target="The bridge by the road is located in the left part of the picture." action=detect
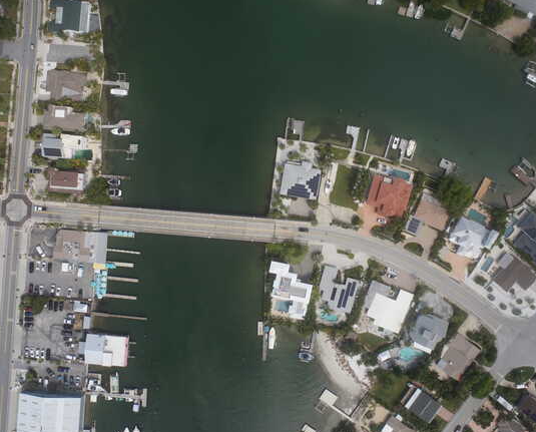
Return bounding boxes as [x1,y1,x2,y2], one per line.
[107,205,267,242]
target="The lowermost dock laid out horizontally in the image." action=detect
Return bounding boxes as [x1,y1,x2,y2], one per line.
[84,388,148,407]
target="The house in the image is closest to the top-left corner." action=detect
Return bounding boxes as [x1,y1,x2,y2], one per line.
[48,0,92,35]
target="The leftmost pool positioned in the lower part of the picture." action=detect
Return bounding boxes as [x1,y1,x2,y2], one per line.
[275,299,293,313]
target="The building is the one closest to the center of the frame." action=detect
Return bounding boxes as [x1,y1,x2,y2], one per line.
[280,161,320,200]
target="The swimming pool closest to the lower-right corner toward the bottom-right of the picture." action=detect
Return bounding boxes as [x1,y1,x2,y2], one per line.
[398,347,425,363]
